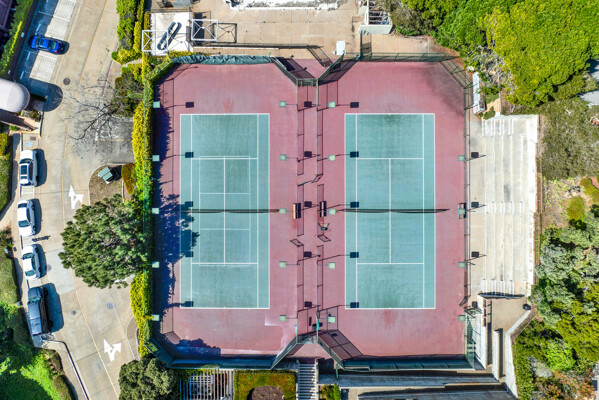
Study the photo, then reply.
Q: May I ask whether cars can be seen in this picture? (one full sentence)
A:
Yes, there is a car in the image.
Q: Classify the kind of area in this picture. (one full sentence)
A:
This looks like a sports ground.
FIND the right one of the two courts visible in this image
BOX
[316,62,466,357]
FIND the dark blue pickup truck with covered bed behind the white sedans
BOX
[26,288,52,335]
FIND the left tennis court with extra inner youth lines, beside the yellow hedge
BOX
[153,64,297,358]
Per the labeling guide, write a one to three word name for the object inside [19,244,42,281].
car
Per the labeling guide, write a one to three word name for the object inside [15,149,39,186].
car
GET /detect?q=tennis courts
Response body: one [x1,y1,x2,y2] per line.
[153,64,297,358]
[316,62,466,357]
